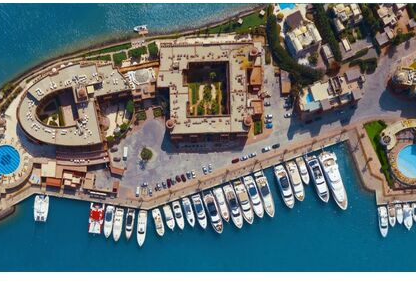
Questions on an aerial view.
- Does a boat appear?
Yes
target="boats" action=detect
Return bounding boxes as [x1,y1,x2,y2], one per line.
[137,206,149,246]
[89,202,104,233]
[174,197,184,229]
[192,189,207,228]
[387,201,396,226]
[377,201,389,237]
[395,199,403,224]
[35,196,50,222]
[275,161,294,208]
[183,193,195,226]
[245,171,263,217]
[223,179,242,228]
[402,200,413,229]
[202,186,222,233]
[114,204,125,241]
[153,204,164,236]
[321,146,349,209]
[214,182,229,221]
[255,166,274,217]
[104,202,116,238]
[286,156,304,201]
[305,151,329,202]
[234,176,253,224]
[297,153,309,184]
[164,201,175,230]
[126,204,136,239]
[135,26,148,32]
